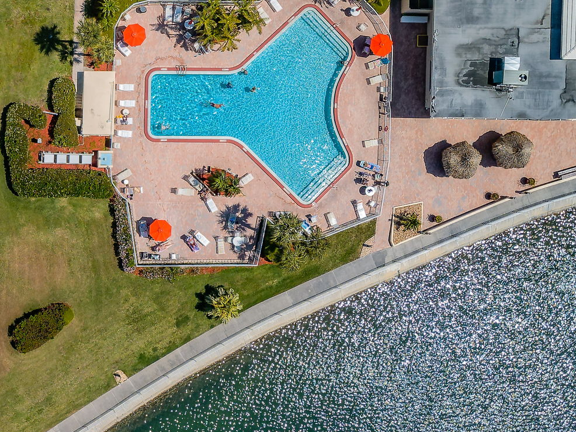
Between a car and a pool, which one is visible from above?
pool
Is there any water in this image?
Yes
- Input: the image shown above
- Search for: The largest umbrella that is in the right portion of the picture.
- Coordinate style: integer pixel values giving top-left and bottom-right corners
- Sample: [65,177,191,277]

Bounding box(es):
[367,33,391,57]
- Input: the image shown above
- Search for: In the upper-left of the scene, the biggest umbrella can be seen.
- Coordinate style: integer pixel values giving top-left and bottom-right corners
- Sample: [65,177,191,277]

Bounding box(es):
[122,22,146,48]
